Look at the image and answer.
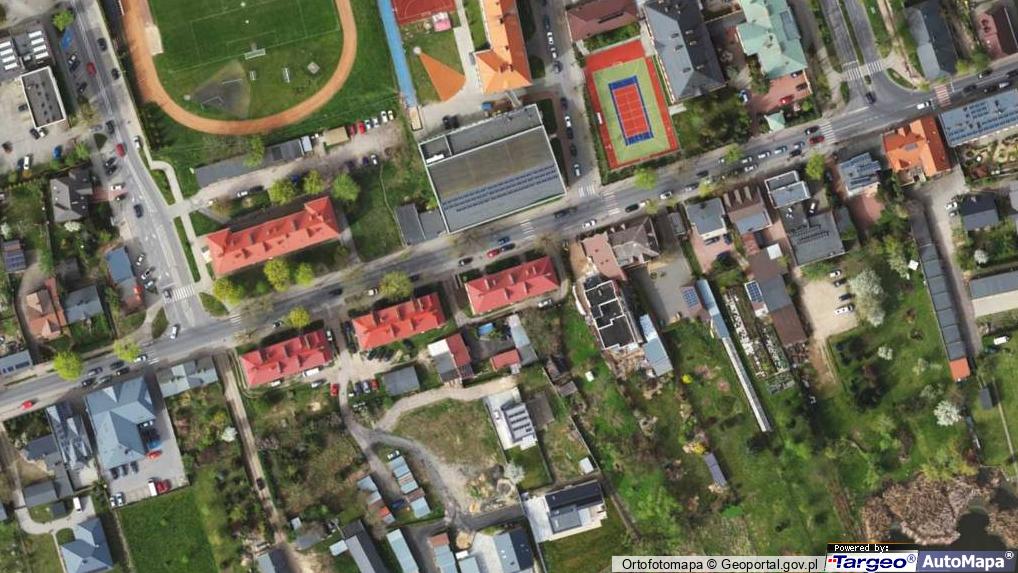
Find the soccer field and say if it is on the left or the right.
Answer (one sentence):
It is on the left.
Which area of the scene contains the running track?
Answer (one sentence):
The running track is in the top left part of the image.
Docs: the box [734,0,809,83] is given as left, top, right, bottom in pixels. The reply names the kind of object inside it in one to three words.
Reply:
building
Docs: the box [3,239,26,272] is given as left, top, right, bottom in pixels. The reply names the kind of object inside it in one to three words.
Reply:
house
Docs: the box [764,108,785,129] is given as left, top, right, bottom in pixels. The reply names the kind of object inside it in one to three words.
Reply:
gazebo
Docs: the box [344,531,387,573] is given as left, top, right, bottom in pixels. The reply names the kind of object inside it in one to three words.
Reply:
barn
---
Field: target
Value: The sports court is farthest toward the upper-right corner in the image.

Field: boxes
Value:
[586,40,679,169]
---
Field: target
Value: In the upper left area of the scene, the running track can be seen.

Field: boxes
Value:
[122,0,358,135]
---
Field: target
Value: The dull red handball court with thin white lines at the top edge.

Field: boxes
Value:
[394,0,456,25]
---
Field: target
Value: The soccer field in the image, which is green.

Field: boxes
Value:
[150,0,339,72]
